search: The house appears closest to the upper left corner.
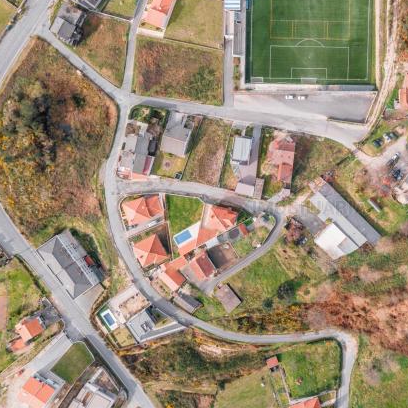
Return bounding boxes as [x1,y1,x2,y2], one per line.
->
[55,5,85,43]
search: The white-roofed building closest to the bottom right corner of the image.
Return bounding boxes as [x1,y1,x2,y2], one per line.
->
[314,223,359,259]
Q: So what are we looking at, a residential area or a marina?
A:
residential area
